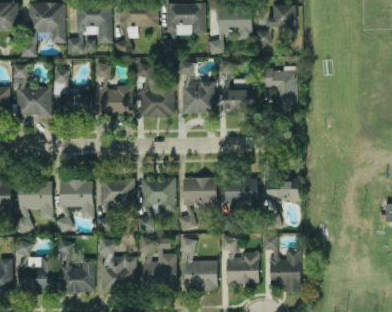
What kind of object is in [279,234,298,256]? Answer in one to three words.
swimming pool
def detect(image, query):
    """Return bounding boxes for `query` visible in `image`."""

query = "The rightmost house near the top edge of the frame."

[258,4,298,47]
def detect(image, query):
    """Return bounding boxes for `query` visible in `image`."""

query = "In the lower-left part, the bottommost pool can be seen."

[34,239,54,257]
